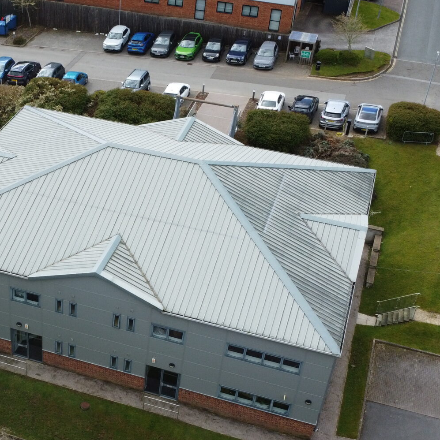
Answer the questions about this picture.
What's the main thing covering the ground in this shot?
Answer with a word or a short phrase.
buildings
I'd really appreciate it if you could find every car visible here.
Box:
[197,36,223,62]
[354,104,384,133]
[225,36,253,65]
[99,23,130,51]
[257,89,285,106]
[159,78,192,105]
[321,98,350,128]
[64,67,89,84]
[0,54,15,82]
[120,61,152,92]
[124,30,152,54]
[34,58,65,75]
[148,32,175,57]
[173,34,201,60]
[253,42,279,68]
[289,93,316,121]
[4,61,40,85]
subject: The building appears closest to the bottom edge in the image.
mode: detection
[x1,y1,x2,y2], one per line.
[0,104,378,439]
